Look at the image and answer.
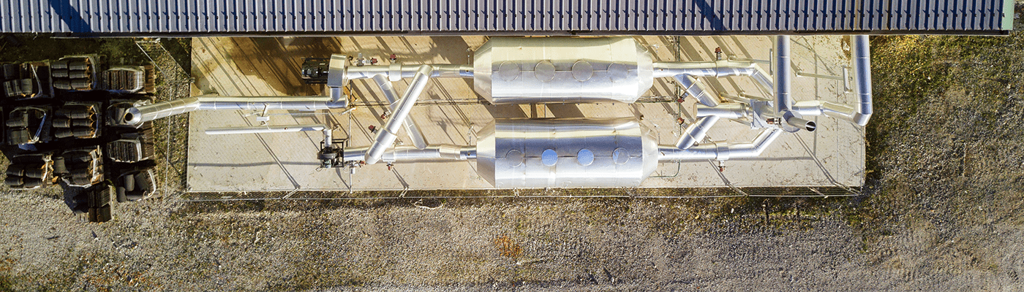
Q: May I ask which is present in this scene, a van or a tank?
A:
tank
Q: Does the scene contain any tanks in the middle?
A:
Yes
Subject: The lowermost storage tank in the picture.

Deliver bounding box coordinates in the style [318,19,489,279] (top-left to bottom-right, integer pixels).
[476,118,661,190]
